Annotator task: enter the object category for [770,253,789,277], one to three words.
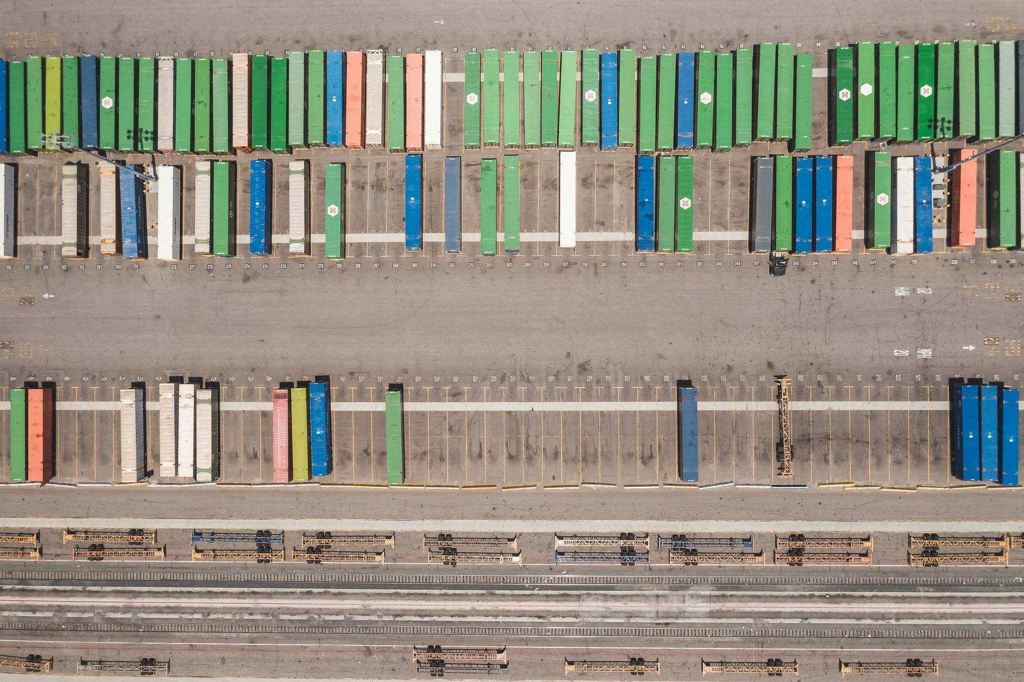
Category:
vehicle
